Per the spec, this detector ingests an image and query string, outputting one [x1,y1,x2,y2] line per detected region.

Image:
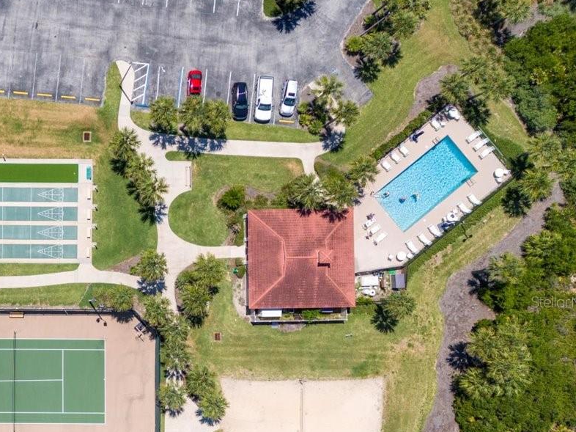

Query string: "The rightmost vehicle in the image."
[278,80,298,117]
